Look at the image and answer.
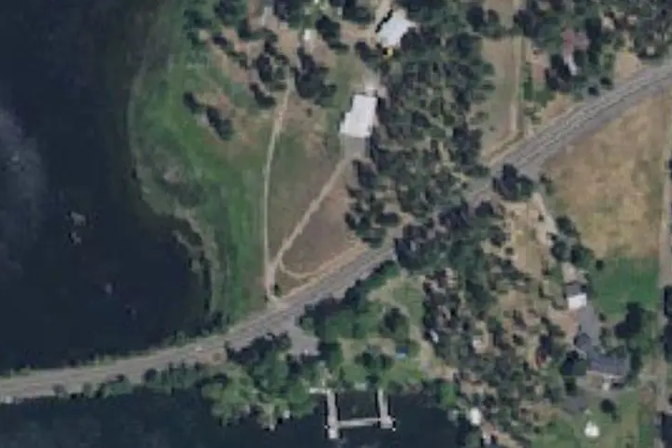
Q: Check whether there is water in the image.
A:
Yes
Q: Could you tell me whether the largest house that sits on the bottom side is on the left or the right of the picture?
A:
right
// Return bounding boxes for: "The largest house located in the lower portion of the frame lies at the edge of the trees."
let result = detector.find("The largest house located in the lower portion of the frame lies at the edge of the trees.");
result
[576,334,630,384]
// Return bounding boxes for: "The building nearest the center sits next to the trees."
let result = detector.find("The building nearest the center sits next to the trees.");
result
[338,91,380,140]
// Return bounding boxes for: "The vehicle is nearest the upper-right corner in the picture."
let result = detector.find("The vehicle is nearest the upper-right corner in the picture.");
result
[565,56,578,74]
